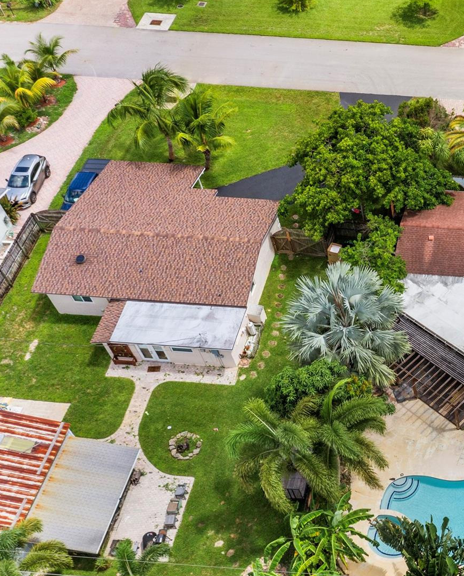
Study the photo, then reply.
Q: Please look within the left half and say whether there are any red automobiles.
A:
No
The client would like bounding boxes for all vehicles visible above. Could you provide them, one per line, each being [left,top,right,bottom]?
[66,152,121,213]
[2,153,50,209]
